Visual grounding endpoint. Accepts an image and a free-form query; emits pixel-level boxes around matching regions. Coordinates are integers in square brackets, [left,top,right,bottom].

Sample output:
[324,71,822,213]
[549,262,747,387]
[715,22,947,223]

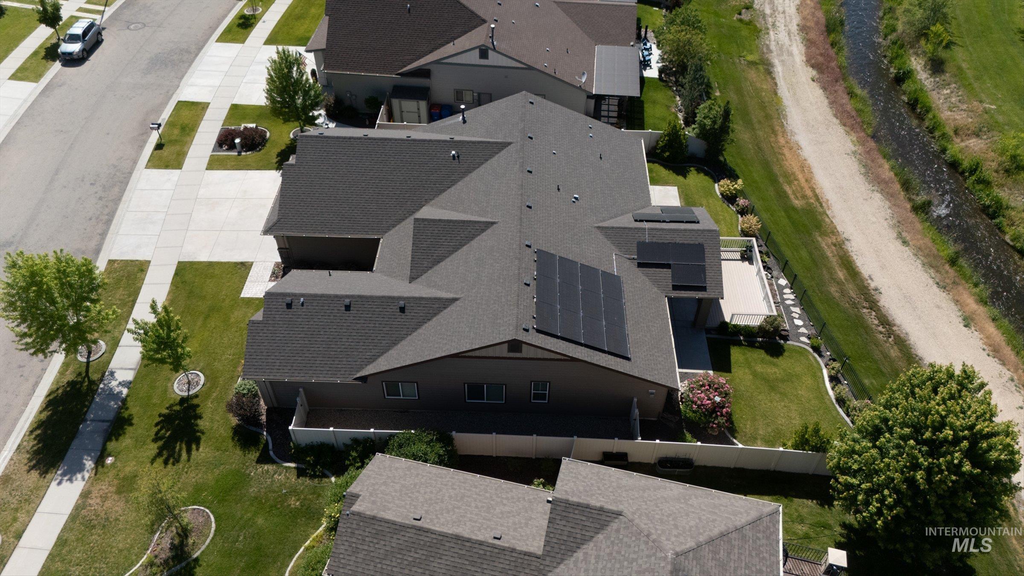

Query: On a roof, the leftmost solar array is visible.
[531,248,630,360]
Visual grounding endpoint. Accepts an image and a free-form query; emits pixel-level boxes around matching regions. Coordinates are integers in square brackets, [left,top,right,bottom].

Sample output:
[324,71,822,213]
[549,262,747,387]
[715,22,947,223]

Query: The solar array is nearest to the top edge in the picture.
[632,207,701,224]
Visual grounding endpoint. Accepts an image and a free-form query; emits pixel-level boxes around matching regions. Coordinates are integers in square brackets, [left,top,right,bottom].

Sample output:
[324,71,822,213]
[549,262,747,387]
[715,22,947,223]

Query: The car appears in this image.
[54,14,104,60]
